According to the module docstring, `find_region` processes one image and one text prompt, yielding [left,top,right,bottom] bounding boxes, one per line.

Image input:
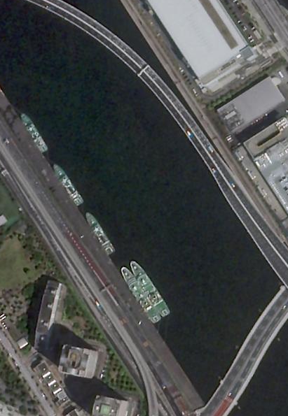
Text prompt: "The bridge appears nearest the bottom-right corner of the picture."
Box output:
[198,282,288,416]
